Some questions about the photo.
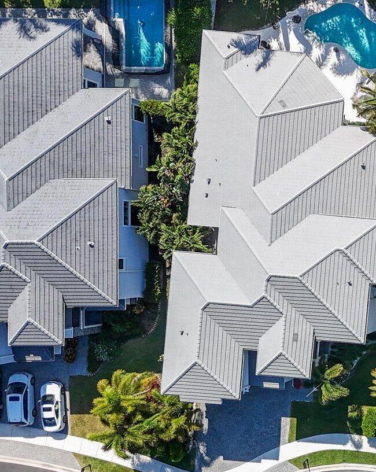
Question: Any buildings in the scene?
Yes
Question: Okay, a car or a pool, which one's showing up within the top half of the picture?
pool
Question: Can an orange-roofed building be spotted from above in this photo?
No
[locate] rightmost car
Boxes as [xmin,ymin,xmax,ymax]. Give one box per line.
[38,381,69,432]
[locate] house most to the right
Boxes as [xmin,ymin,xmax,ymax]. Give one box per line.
[161,28,376,406]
